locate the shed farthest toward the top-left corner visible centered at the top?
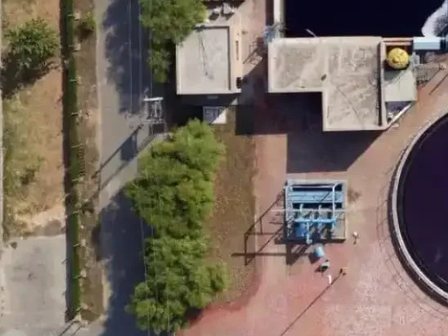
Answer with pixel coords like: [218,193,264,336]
[177,22,241,94]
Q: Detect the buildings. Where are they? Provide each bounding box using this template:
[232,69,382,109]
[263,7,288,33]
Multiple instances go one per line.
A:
[269,37,389,131]
[177,22,241,94]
